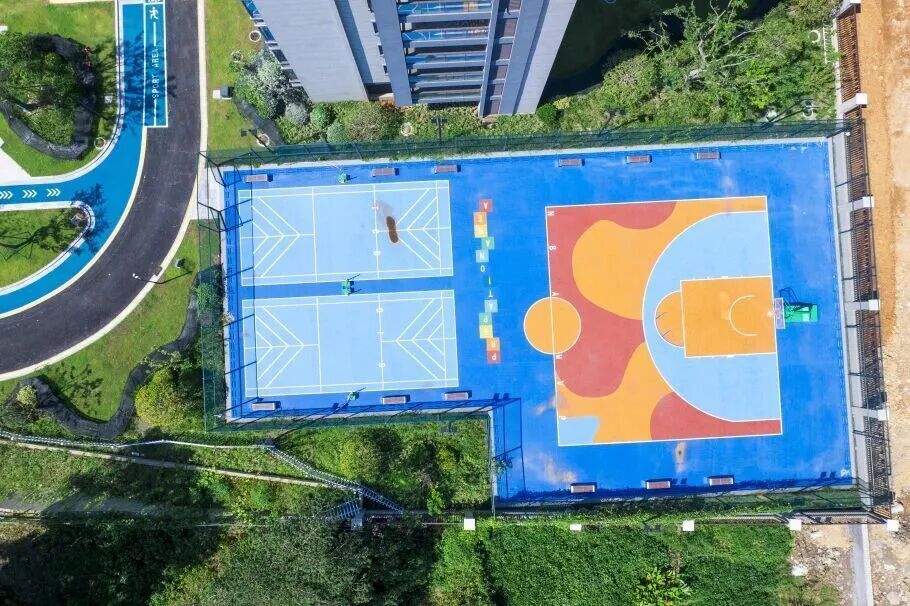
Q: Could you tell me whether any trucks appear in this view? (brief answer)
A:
No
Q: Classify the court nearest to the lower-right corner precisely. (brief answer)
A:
basketball court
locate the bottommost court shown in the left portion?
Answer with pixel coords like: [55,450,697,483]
[243,291,459,396]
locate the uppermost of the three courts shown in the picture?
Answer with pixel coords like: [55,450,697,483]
[239,180,453,285]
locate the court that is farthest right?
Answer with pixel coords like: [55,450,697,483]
[523,195,783,446]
